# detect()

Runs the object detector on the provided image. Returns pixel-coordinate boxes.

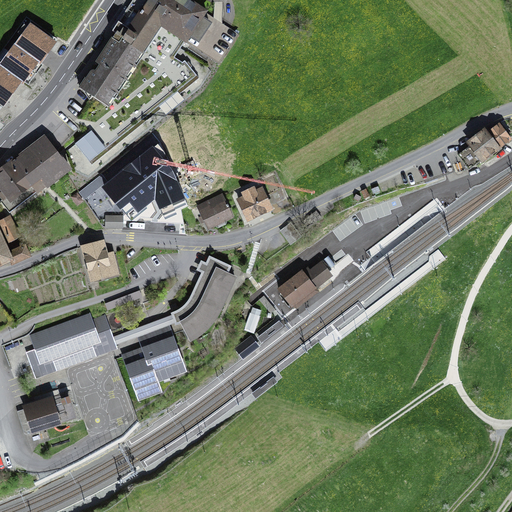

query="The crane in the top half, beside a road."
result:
[150,156,313,192]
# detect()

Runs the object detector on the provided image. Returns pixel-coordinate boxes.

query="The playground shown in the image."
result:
[68,352,134,434]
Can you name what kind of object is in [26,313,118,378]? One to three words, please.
building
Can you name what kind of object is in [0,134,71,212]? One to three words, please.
house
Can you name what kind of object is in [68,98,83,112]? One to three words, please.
vehicle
